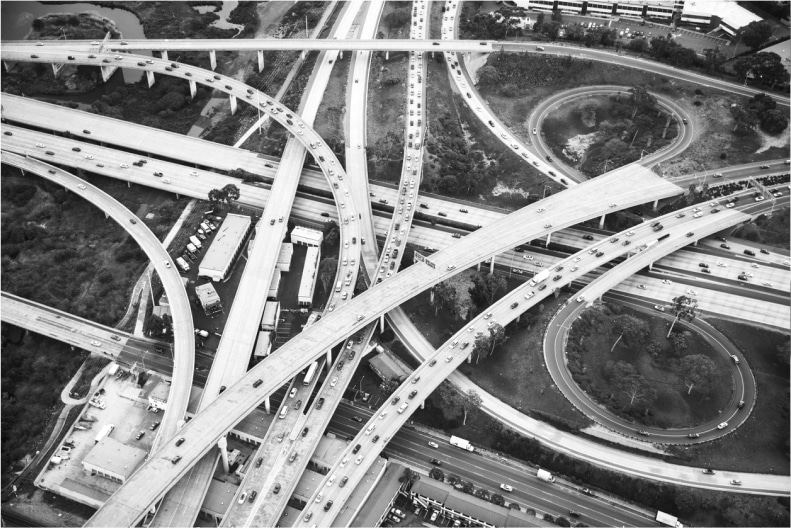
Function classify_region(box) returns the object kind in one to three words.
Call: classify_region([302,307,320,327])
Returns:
vehicle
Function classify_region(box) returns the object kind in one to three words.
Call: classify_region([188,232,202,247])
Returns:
vehicle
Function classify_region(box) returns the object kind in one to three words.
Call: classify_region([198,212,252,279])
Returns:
building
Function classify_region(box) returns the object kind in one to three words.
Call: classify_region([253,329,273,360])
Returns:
shed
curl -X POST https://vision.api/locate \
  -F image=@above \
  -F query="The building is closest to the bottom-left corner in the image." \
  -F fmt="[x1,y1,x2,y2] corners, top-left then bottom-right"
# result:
[81,435,148,482]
